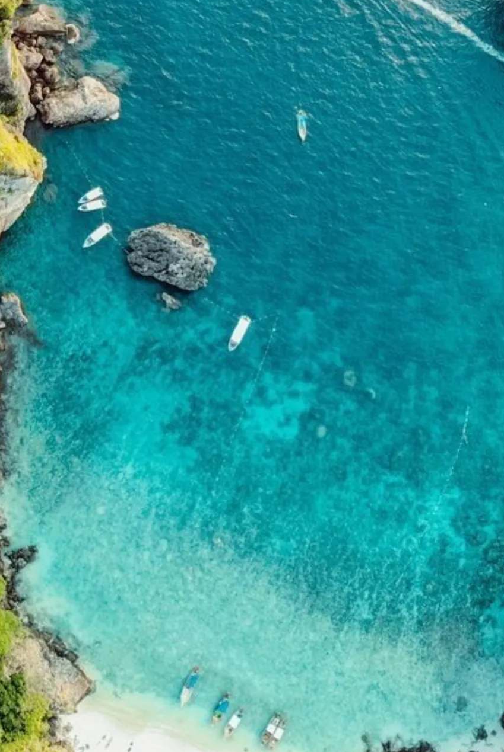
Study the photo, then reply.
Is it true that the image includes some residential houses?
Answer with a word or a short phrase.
No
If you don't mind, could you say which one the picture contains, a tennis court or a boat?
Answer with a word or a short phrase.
boat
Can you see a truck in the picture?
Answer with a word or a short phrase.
No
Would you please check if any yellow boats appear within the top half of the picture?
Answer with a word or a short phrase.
No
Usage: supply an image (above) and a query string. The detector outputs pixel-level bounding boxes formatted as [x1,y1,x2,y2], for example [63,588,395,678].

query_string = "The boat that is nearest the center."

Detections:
[229,314,251,350]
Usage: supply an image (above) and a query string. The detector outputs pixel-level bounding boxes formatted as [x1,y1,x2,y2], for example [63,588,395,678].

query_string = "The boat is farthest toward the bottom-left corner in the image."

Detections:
[181,662,201,706]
